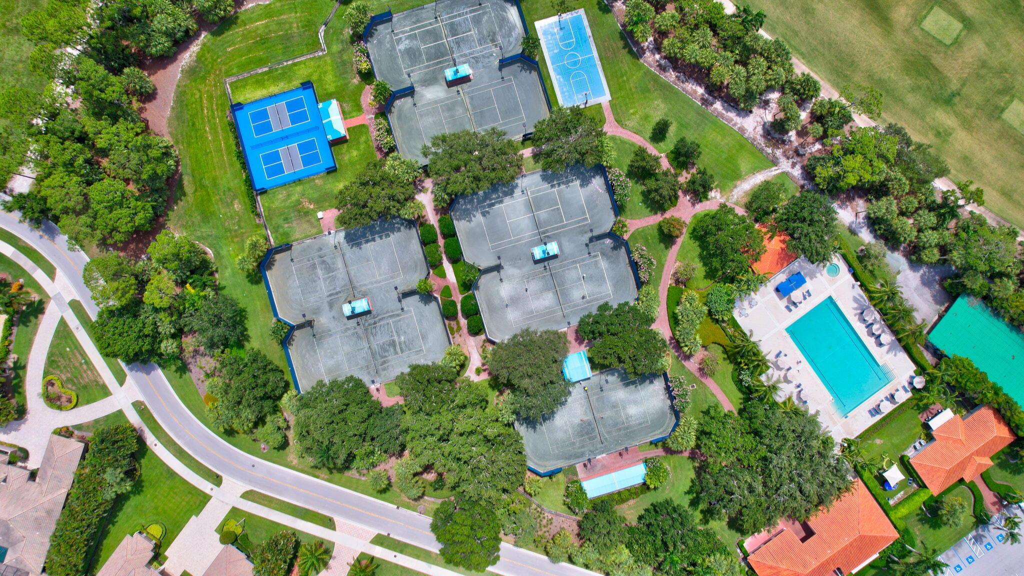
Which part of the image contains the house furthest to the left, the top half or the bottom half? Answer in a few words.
bottom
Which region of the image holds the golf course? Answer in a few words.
top right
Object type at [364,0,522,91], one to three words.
tennis court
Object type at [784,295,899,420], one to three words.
swimming pool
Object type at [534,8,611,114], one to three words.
basketball court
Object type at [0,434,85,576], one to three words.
house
